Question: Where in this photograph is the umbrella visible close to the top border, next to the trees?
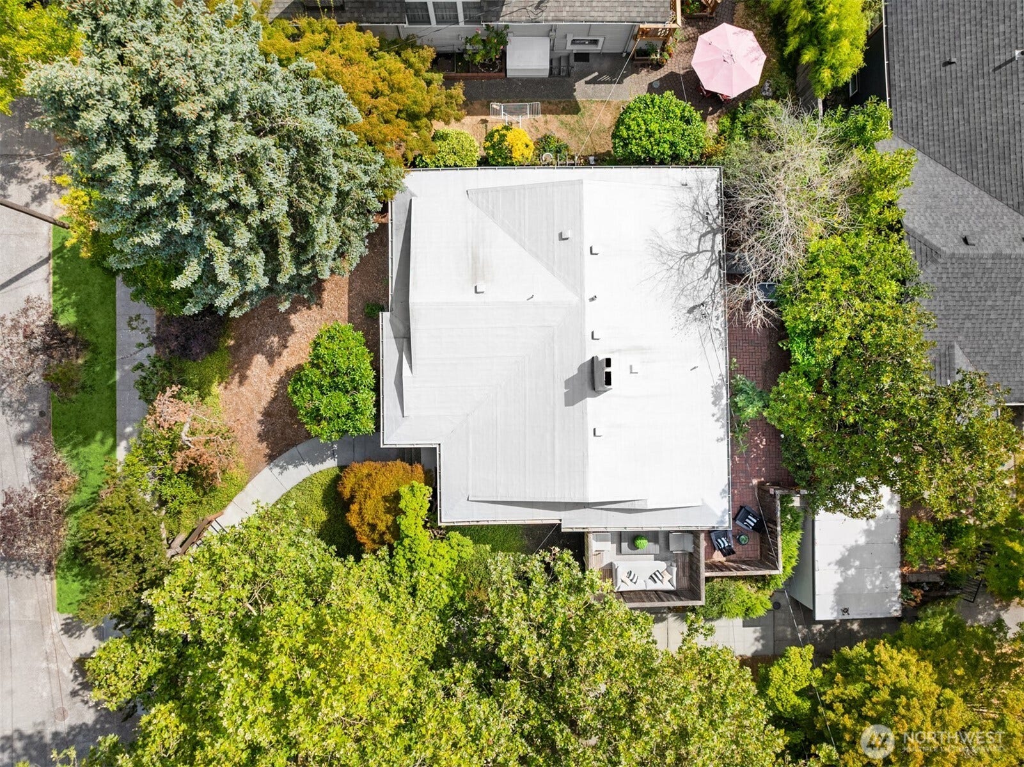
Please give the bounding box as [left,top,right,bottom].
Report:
[691,23,766,99]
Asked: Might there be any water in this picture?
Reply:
No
